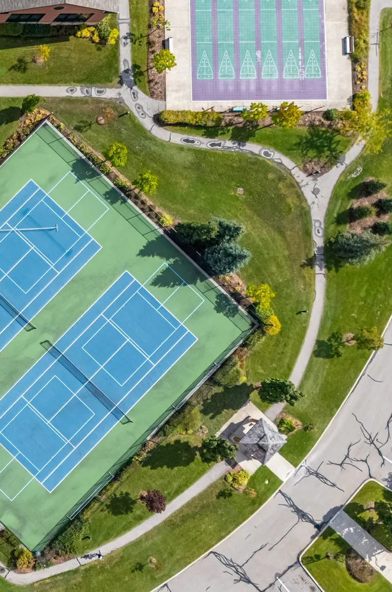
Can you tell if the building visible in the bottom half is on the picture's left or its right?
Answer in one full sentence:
The building visible in the bottom half sits on the right side.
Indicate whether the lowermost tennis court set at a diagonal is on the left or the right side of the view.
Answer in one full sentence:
The lowermost tennis court set at a diagonal appears in the left half of the scene.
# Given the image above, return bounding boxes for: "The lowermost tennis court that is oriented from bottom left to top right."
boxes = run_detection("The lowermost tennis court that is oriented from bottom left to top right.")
[0,262,205,501]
